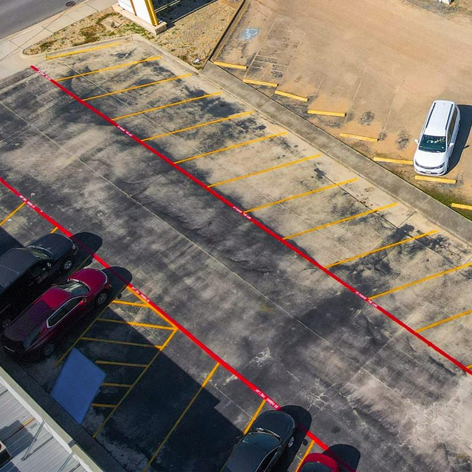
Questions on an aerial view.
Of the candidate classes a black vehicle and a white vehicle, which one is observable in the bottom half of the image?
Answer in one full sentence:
Visible in the bottom half of the image is a black vehicle.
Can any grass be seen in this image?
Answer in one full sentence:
No, no grass is visible.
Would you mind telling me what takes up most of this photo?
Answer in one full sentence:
The bulk of the photo consists of paved ground.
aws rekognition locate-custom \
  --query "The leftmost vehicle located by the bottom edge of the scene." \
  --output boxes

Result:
[200,403,291,472]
